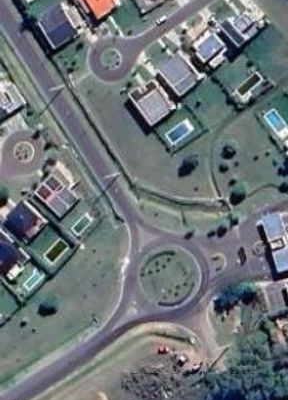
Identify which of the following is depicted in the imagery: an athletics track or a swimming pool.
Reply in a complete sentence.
It is a swimming pool that can be seen here.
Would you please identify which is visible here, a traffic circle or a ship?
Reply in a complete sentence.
There is a traffic circle in the scene.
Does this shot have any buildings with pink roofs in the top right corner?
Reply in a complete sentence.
No, the scene shows no building with a pink roof in the top right corner.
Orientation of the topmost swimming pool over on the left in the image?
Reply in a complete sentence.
I'd say the topmost swimming pool over on the left is aligned at an angle in the picture.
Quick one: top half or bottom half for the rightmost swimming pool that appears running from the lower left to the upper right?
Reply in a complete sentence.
The rightmost swimming pool that appears running from the lower left to the upper right is in the top half of the image.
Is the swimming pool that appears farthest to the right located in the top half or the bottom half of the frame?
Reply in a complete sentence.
Seen from above, the swimming pool that appears farthest to the right lies in the top half of the view.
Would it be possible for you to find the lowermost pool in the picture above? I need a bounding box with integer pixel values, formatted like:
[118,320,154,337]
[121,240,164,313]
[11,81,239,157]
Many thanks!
[25,274,44,290]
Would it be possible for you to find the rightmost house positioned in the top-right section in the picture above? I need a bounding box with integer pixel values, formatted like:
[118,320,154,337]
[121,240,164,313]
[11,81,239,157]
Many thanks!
[218,13,270,47]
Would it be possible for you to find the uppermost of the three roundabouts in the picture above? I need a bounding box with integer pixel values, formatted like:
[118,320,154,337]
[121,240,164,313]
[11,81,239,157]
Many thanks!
[89,37,132,81]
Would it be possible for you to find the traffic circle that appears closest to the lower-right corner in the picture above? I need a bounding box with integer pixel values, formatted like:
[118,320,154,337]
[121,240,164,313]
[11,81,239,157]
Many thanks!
[126,234,211,318]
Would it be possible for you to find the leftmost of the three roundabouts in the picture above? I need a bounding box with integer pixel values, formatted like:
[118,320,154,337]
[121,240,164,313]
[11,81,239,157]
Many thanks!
[1,130,44,175]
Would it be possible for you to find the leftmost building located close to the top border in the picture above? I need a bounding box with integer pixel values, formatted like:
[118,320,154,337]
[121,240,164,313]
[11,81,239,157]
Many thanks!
[37,2,83,49]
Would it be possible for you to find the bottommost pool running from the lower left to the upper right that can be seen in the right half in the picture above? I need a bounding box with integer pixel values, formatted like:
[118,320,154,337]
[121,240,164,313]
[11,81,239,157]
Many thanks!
[165,119,195,146]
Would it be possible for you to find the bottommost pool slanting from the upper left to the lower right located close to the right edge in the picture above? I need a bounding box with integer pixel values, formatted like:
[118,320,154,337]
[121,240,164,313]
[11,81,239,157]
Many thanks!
[264,110,288,139]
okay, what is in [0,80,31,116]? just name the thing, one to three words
house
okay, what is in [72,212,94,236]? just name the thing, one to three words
swimming pool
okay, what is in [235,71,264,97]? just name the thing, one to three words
swimming pool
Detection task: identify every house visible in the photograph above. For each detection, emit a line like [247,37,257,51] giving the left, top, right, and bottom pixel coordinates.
[4,200,52,243]
[194,30,230,68]
[0,239,27,280]
[0,80,31,116]
[159,53,199,95]
[128,78,182,126]
[35,175,84,216]
[37,2,83,49]
[218,13,270,47]
[84,0,121,20]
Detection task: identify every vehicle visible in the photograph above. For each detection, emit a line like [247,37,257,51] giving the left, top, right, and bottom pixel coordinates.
[176,355,187,364]
[186,366,196,373]
[156,346,168,353]
[238,249,245,261]
[156,16,165,24]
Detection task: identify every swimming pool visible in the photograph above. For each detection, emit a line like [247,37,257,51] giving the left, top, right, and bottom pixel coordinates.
[44,239,69,263]
[165,119,195,146]
[25,274,44,290]
[264,110,288,139]
[72,212,94,236]
[235,71,264,97]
